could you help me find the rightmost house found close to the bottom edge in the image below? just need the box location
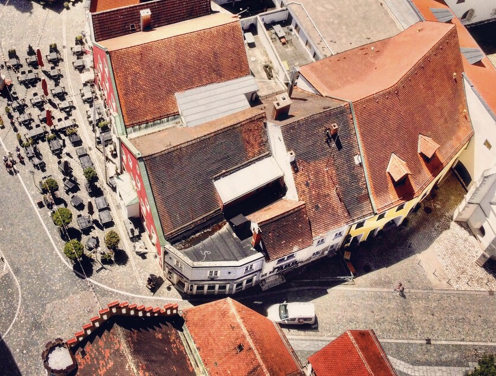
[304,331,393,376]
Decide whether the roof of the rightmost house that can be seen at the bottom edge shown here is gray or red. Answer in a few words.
red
